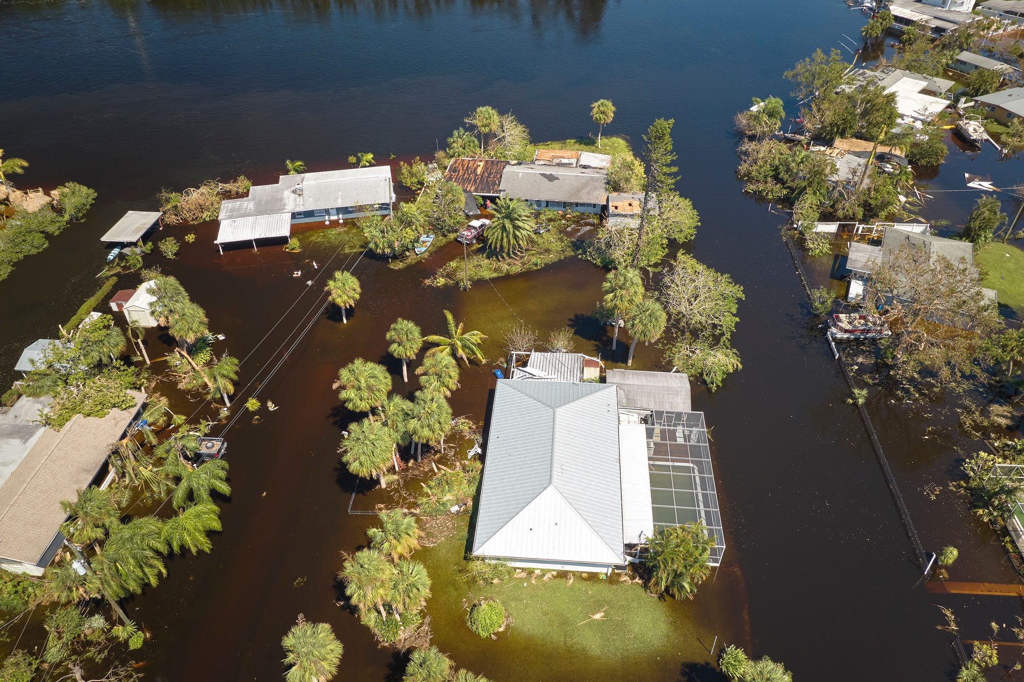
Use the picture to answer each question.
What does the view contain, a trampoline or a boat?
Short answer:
boat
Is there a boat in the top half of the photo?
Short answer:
Yes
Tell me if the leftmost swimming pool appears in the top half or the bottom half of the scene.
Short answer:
bottom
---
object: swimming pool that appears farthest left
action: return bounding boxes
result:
[620,435,721,575]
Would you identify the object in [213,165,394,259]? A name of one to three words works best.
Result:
house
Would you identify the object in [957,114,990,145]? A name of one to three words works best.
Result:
boat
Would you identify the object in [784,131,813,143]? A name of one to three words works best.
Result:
boat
